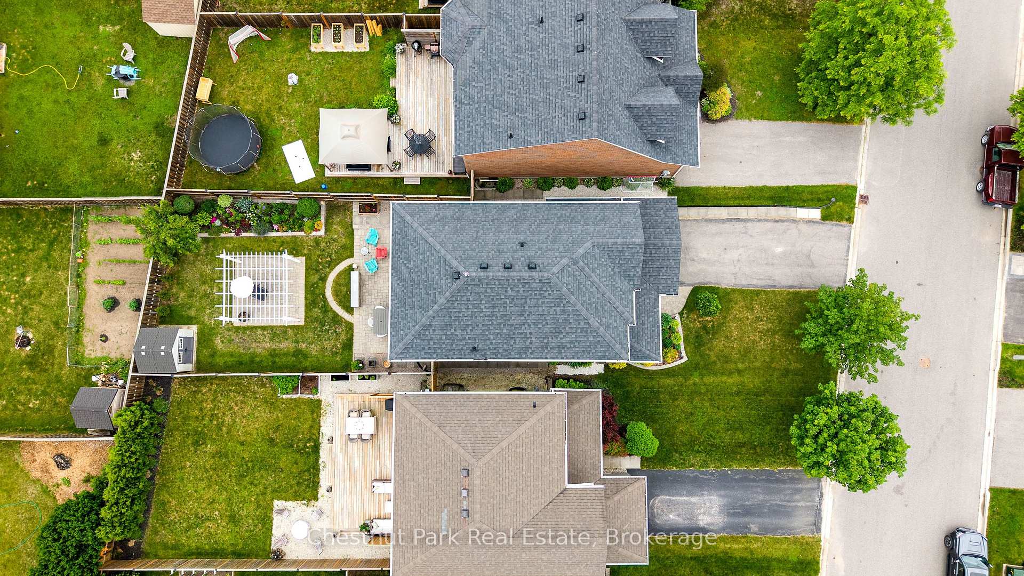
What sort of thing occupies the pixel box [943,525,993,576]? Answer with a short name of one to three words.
car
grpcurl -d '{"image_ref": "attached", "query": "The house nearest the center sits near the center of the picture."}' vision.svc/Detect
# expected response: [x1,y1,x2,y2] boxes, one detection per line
[389,194,688,363]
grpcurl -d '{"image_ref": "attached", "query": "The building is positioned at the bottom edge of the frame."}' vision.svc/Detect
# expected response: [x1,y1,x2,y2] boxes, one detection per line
[390,387,650,576]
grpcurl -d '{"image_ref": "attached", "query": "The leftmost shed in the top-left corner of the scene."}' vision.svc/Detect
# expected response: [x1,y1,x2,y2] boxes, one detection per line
[137,0,206,33]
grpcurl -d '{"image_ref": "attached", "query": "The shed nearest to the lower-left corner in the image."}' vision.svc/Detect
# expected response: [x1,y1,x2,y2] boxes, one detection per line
[69,388,125,430]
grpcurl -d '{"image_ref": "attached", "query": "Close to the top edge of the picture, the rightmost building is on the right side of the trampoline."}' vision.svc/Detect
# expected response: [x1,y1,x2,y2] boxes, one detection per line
[439,0,702,178]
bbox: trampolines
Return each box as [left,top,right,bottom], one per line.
[188,104,268,177]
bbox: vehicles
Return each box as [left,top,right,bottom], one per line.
[973,121,1022,214]
[943,525,993,576]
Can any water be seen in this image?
No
